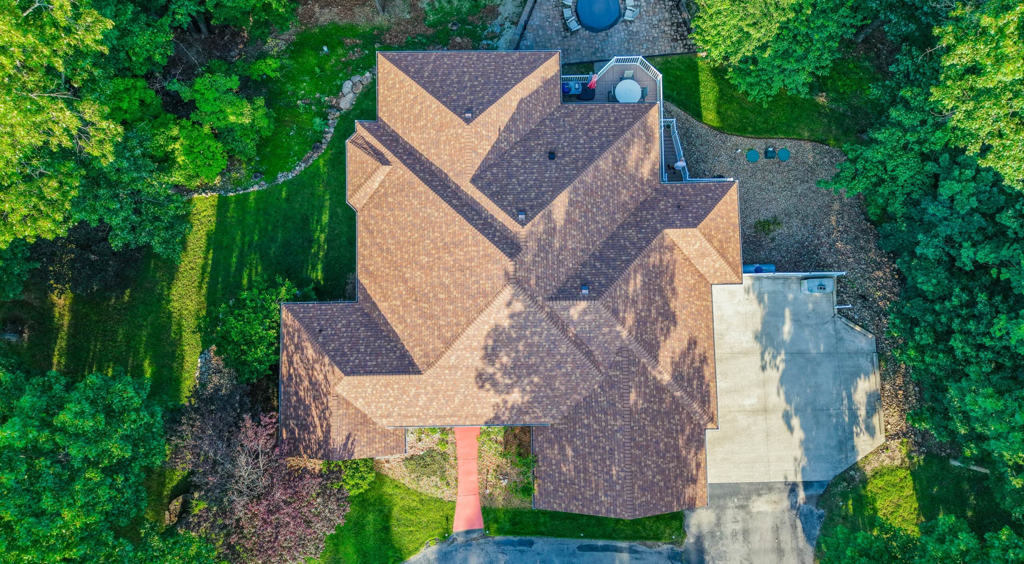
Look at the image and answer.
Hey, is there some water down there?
No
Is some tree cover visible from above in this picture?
Yes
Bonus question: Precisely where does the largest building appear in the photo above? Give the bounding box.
[279,51,742,520]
